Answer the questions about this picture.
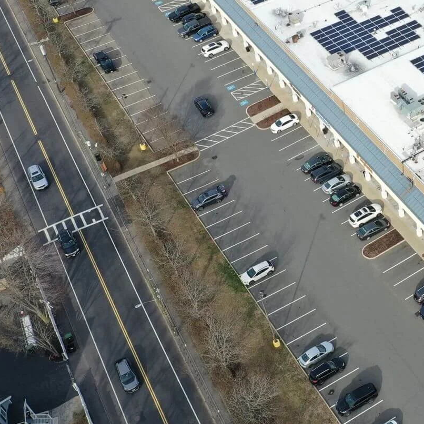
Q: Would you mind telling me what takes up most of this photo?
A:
paved ground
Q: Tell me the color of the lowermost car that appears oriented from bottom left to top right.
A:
black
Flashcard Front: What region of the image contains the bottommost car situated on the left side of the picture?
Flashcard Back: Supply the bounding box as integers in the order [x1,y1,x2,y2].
[114,357,142,393]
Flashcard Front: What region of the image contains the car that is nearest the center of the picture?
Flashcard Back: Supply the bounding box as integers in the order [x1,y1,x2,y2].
[191,179,229,210]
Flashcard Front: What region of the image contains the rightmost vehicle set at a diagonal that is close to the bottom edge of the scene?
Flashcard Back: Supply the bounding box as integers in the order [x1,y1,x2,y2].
[335,380,380,417]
